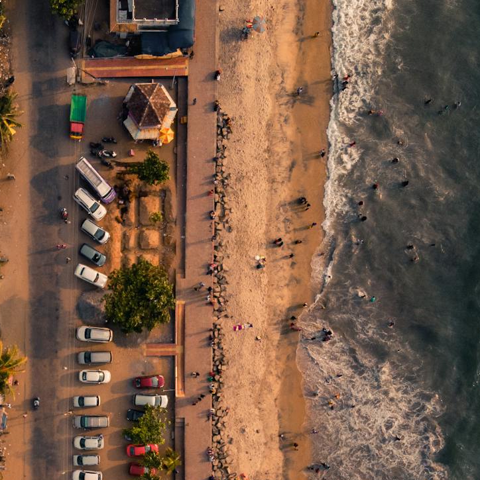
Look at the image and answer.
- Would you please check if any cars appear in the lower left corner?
Yes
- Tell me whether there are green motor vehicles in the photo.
Yes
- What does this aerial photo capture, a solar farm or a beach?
beach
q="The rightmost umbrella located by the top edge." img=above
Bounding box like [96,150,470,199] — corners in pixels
[250,18,263,31]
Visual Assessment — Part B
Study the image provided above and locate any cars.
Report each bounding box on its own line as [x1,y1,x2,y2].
[76,325,112,343]
[78,242,108,269]
[127,443,159,459]
[73,261,108,290]
[73,454,100,467]
[78,350,112,366]
[73,393,100,409]
[124,407,153,420]
[72,187,109,221]
[133,373,164,390]
[79,217,111,246]
[72,469,102,480]
[129,463,157,479]
[134,392,167,409]
[79,369,110,384]
[74,414,109,432]
[74,435,103,451]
